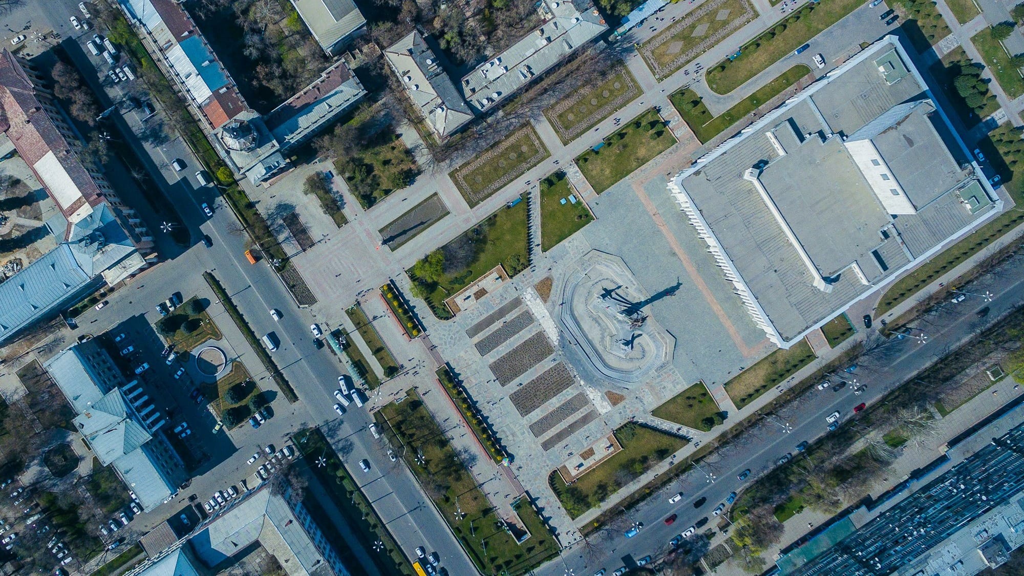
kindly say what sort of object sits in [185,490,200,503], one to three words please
vehicle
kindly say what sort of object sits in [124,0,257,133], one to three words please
building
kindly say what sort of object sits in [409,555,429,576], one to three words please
bus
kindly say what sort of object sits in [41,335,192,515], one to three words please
building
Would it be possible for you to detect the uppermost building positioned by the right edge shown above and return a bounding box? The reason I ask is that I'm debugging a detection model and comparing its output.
[650,36,1002,348]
